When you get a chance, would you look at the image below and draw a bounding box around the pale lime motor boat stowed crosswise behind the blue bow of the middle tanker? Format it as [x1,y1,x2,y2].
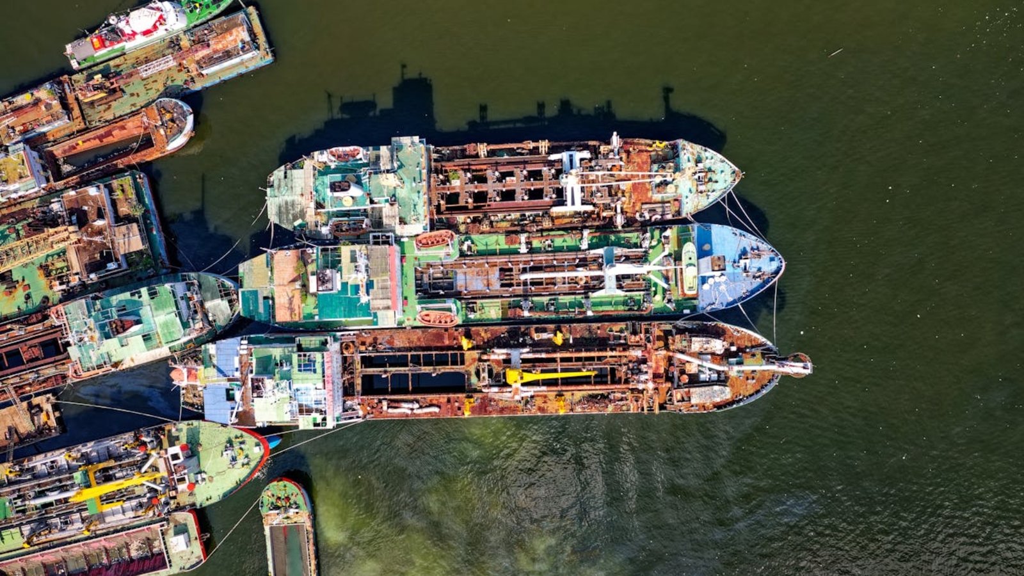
[680,243,697,295]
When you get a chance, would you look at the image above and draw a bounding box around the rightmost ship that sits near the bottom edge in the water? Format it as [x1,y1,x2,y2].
[258,473,321,576]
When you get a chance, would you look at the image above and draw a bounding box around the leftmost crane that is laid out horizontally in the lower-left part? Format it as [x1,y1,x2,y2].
[69,458,172,514]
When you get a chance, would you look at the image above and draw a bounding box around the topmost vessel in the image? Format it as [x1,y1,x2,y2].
[61,0,247,72]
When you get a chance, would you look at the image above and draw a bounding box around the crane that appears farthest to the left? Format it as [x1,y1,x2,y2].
[0,222,94,273]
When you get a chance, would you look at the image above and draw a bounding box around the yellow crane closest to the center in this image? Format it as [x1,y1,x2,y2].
[507,366,599,385]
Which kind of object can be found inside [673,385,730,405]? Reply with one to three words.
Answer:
boat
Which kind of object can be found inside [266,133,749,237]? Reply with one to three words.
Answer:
ship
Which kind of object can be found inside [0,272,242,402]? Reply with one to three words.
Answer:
ship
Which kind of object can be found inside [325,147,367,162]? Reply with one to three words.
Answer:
boat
